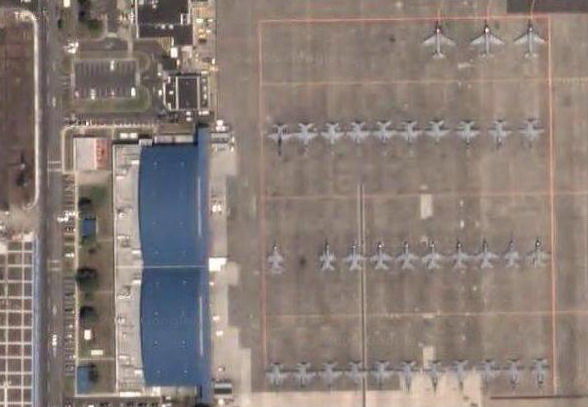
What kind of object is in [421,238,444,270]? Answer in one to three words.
airplane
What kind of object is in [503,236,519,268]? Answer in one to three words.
airplane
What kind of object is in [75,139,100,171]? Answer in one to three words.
building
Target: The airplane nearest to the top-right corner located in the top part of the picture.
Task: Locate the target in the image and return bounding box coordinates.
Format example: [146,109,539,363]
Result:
[514,20,546,56]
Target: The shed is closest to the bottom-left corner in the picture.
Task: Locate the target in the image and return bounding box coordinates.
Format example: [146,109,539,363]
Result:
[78,366,93,392]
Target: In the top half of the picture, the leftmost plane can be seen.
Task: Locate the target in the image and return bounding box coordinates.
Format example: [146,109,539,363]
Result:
[269,123,291,154]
